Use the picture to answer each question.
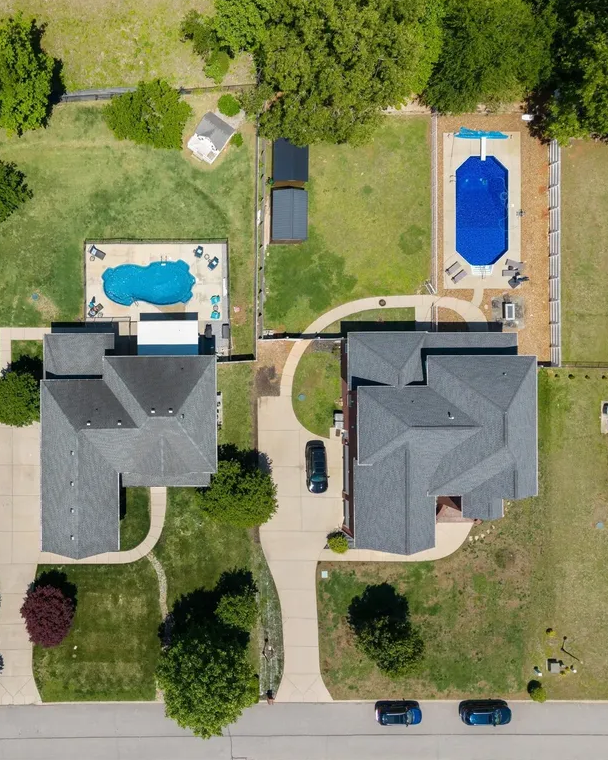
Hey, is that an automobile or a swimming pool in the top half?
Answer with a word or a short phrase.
swimming pool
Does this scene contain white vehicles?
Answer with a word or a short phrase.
No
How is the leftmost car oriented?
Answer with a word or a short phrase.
up and down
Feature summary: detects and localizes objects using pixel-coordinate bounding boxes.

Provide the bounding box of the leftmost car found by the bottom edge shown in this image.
[376,702,421,727]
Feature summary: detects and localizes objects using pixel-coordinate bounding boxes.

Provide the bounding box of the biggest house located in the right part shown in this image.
[340,331,538,555]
